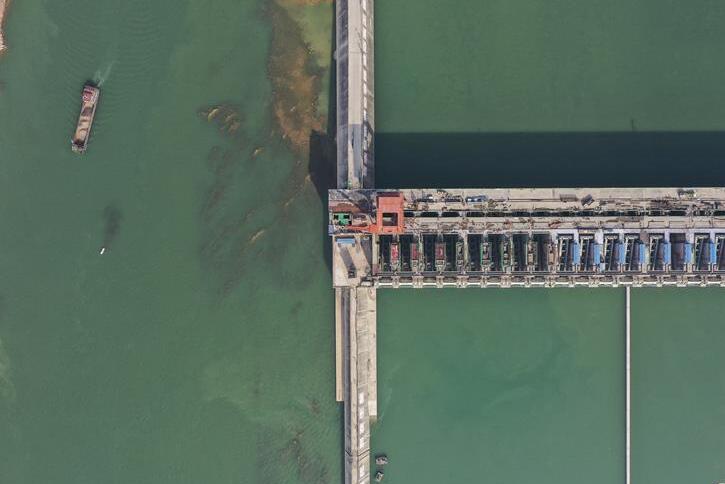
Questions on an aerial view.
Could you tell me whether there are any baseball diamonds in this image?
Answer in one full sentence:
No, I find no baseball diamond anywhere in the image.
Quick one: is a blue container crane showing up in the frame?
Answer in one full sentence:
No, I find no blue container crane anywhere in the image.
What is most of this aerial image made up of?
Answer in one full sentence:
Most of the picture is covered by water.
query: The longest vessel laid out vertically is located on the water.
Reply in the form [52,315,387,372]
[71,83,98,153]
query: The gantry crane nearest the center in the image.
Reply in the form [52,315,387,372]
[346,192,404,236]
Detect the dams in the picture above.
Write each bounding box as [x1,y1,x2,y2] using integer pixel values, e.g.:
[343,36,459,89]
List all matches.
[371,188,725,287]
